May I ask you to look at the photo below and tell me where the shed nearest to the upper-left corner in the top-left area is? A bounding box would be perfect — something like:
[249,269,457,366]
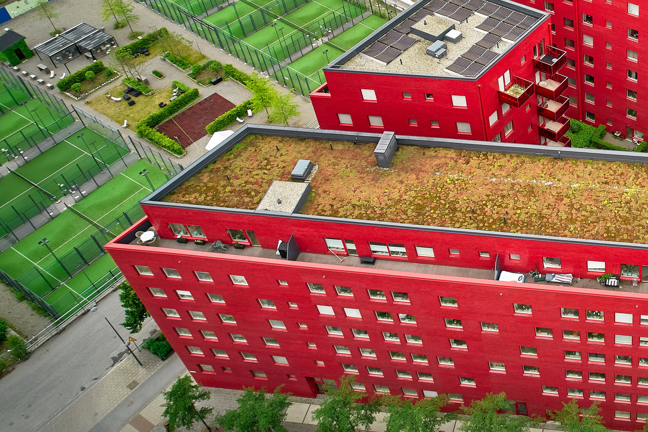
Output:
[0,31,31,67]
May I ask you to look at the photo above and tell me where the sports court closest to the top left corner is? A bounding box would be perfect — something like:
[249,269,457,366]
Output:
[0,66,32,116]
